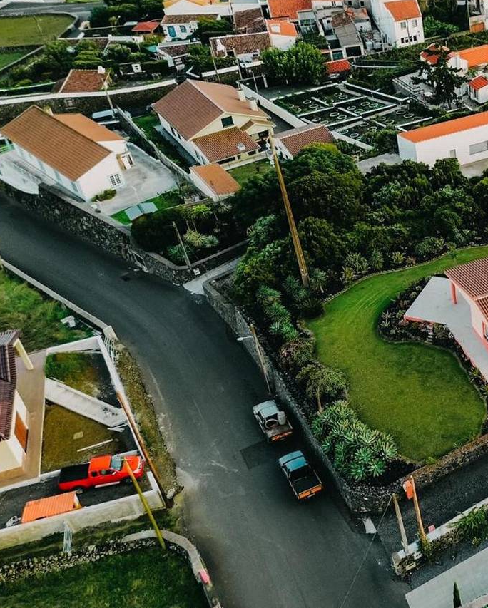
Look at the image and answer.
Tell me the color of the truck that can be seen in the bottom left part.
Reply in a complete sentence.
The color of the truck that can be seen in the bottom left part is red.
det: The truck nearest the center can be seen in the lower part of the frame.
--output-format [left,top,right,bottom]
[253,401,293,450]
